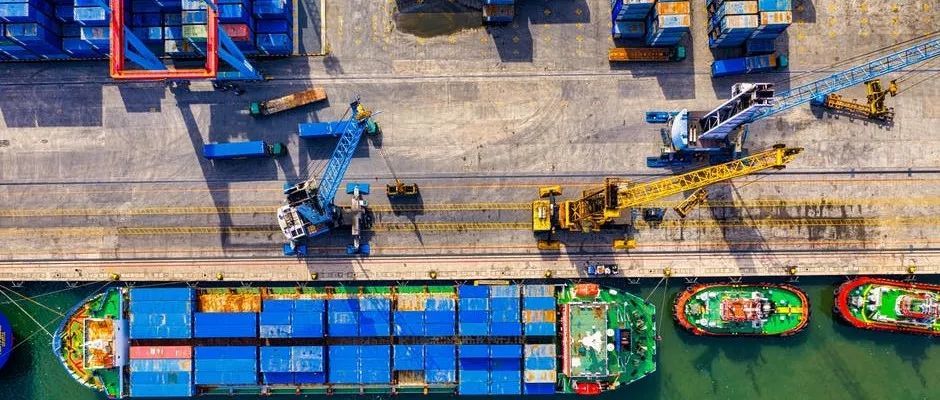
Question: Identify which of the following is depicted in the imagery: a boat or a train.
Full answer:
Looking from above, you can make out a boat.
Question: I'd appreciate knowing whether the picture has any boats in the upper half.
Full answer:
No, I see no boat in the upper half.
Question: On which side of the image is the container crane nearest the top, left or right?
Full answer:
The container crane nearest the top sits on the left side.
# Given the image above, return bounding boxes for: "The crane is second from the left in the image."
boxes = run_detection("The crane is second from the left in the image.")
[273,95,373,255]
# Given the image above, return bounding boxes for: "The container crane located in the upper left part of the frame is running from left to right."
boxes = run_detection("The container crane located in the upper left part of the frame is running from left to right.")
[90,0,274,84]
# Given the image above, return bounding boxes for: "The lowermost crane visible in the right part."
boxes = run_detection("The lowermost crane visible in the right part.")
[530,139,806,250]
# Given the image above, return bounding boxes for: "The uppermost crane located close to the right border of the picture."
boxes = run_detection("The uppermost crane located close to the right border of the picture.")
[643,29,940,167]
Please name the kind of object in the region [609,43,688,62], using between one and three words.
vehicle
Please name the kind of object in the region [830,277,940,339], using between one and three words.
boat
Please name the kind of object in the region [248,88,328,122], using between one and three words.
truck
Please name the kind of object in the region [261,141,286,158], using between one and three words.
vehicle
